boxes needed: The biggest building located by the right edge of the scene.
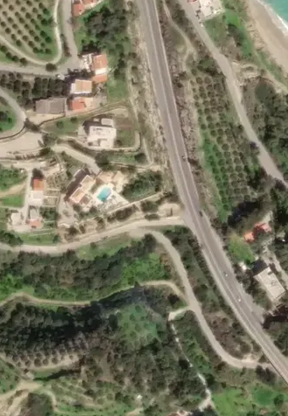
[253,268,284,302]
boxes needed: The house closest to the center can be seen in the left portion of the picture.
[69,170,126,210]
